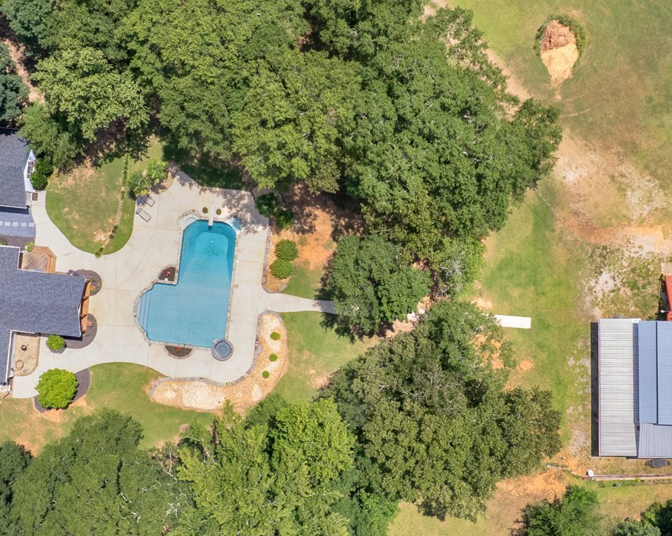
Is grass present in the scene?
Yes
